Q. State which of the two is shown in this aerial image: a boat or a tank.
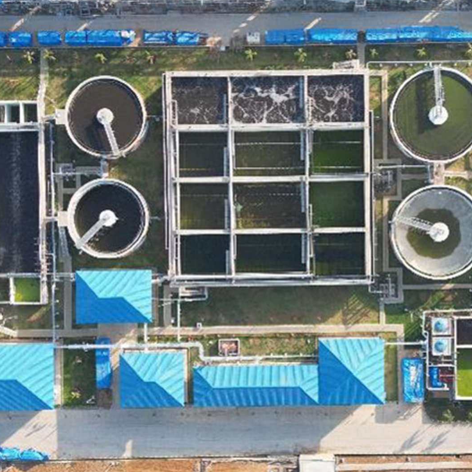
tank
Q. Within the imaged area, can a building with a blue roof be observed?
Yes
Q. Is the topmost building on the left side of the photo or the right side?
left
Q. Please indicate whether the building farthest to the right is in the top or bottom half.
bottom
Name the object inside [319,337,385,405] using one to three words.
building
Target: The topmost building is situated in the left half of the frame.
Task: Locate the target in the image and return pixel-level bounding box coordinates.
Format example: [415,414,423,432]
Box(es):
[75,270,152,324]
